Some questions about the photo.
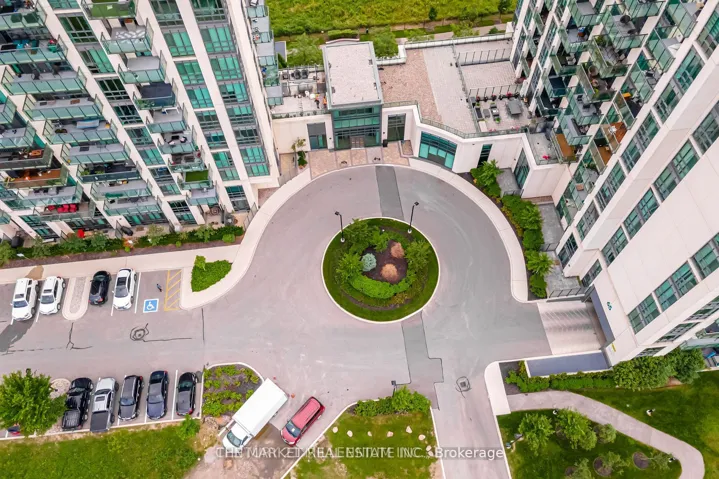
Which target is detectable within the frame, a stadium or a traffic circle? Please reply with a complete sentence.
The one in the frame is a traffic circle.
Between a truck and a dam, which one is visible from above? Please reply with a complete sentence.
This aerial view contains a truck.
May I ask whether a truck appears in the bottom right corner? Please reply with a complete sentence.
No, no truck is visible in the bottom right corner.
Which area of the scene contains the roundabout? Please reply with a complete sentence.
You can find the roundabout in the center area of the picture.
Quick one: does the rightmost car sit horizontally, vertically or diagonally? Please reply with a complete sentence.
In this picture, the rightmost car lies diagonally.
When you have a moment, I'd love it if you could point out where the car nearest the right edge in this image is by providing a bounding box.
[275,391,320,441]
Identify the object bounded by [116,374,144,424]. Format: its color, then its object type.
gray car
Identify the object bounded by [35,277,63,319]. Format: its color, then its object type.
white car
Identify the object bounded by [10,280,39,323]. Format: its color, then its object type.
white car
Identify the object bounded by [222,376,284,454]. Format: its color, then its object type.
white truck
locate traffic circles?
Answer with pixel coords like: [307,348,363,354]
[322,218,440,324]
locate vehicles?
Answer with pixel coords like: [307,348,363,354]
[60,376,93,436]
[88,375,121,435]
[10,280,39,323]
[176,371,199,418]
[4,416,29,437]
[112,270,137,313]
[143,369,169,421]
[222,376,284,454]
[35,277,63,319]
[116,374,144,424]
[91,270,113,309]
[275,391,320,441]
